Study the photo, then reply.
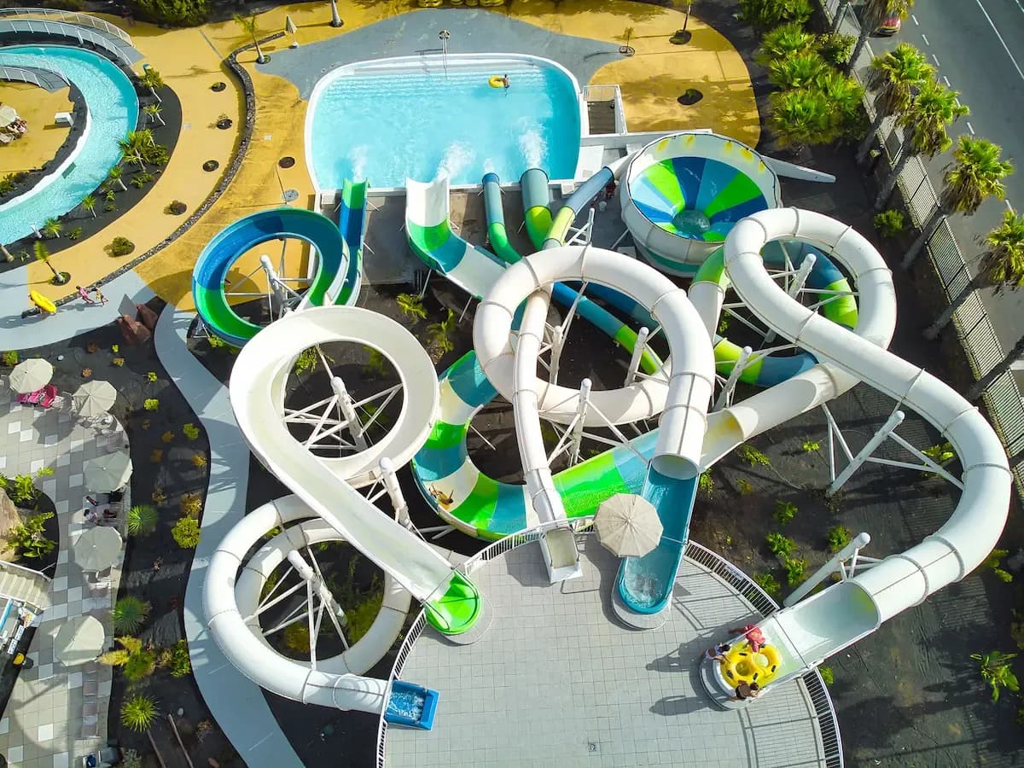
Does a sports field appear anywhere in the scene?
No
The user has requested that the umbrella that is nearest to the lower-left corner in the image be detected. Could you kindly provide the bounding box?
[54,615,114,672]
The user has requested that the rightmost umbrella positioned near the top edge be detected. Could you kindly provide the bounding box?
[286,18,298,49]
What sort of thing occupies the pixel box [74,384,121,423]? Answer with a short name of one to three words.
umbrella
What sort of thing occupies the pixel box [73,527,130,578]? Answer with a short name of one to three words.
umbrella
